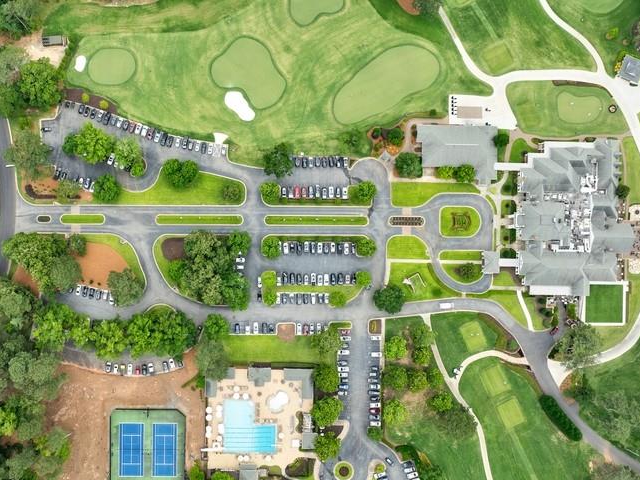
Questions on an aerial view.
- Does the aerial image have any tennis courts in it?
Yes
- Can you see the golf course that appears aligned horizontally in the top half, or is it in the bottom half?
top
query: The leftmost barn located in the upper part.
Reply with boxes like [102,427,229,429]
[415,125,498,188]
